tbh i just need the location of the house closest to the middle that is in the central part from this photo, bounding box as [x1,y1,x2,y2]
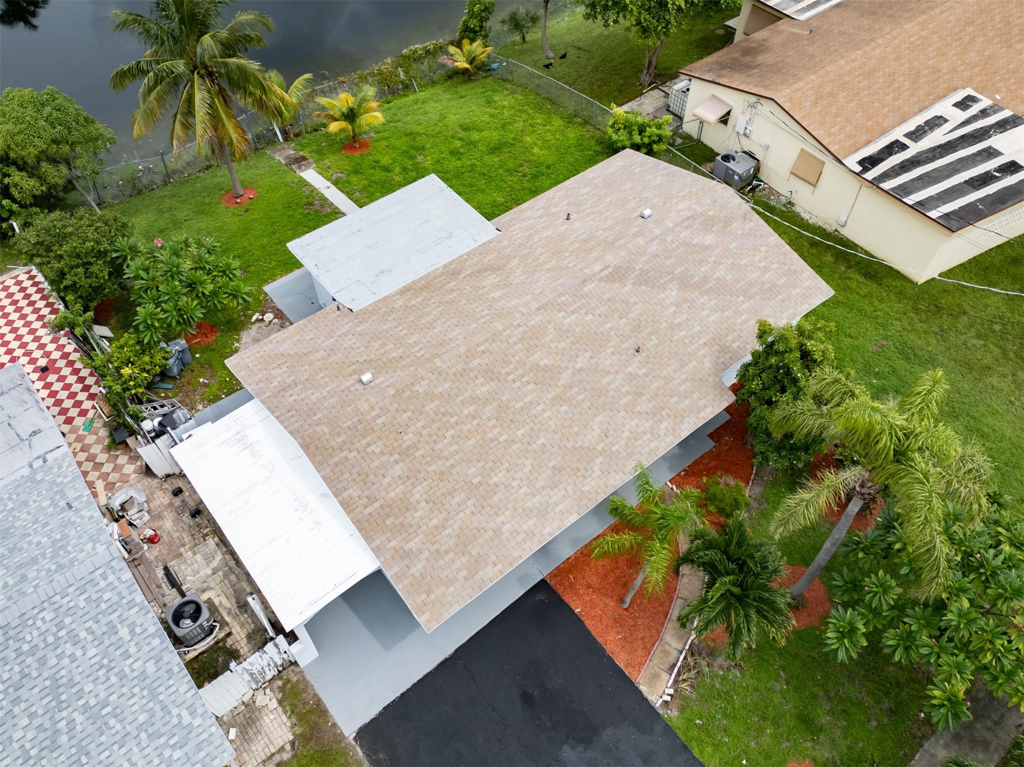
[168,148,839,665]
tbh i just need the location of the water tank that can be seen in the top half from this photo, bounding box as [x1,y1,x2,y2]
[667,81,690,119]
